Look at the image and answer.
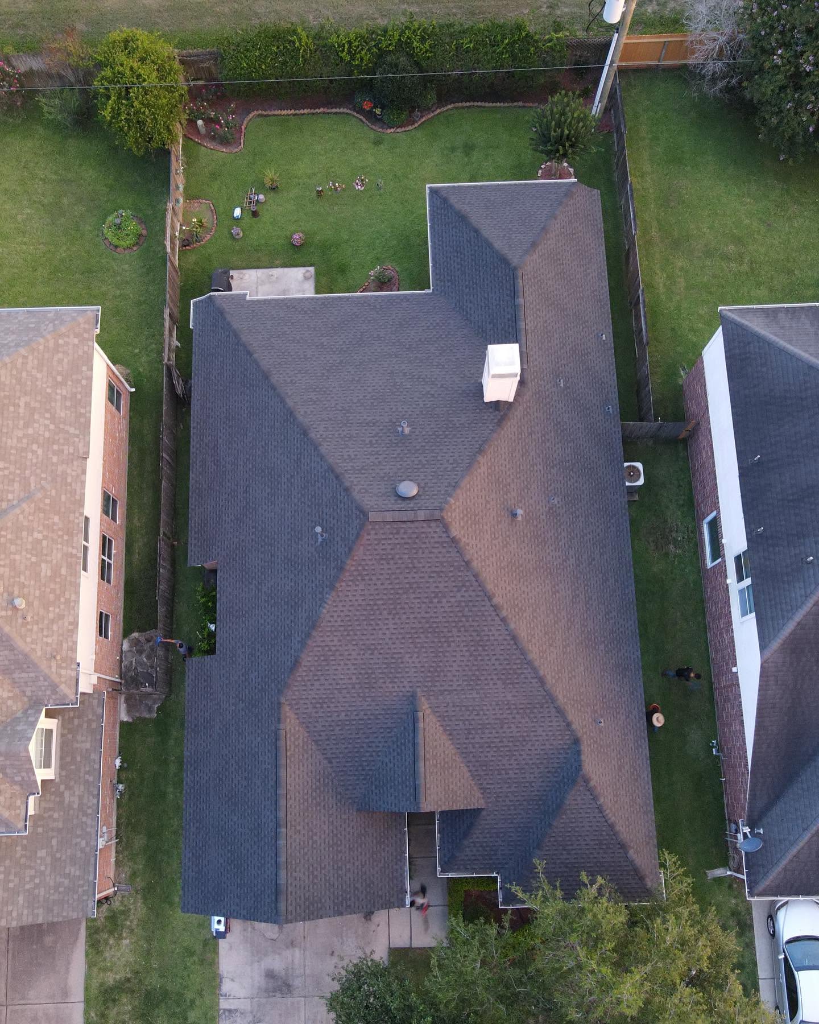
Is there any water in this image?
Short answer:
No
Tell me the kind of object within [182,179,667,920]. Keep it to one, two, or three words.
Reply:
house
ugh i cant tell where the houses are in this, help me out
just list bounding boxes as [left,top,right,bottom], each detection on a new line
[0,306,143,927]
[680,302,819,903]
[182,179,667,920]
